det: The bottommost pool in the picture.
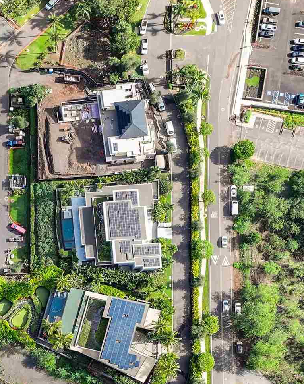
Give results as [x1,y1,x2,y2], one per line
[49,292,68,322]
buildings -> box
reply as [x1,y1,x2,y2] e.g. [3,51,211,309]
[98,81,156,163]
[72,180,162,270]
[38,289,161,384]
